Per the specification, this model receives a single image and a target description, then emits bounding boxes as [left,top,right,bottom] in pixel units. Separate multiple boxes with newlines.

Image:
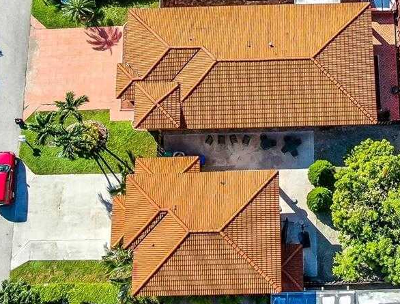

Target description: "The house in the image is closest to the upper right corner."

[115,2,378,130]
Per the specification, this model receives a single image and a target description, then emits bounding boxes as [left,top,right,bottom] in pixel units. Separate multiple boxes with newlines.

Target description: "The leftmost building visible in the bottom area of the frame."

[109,154,306,303]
